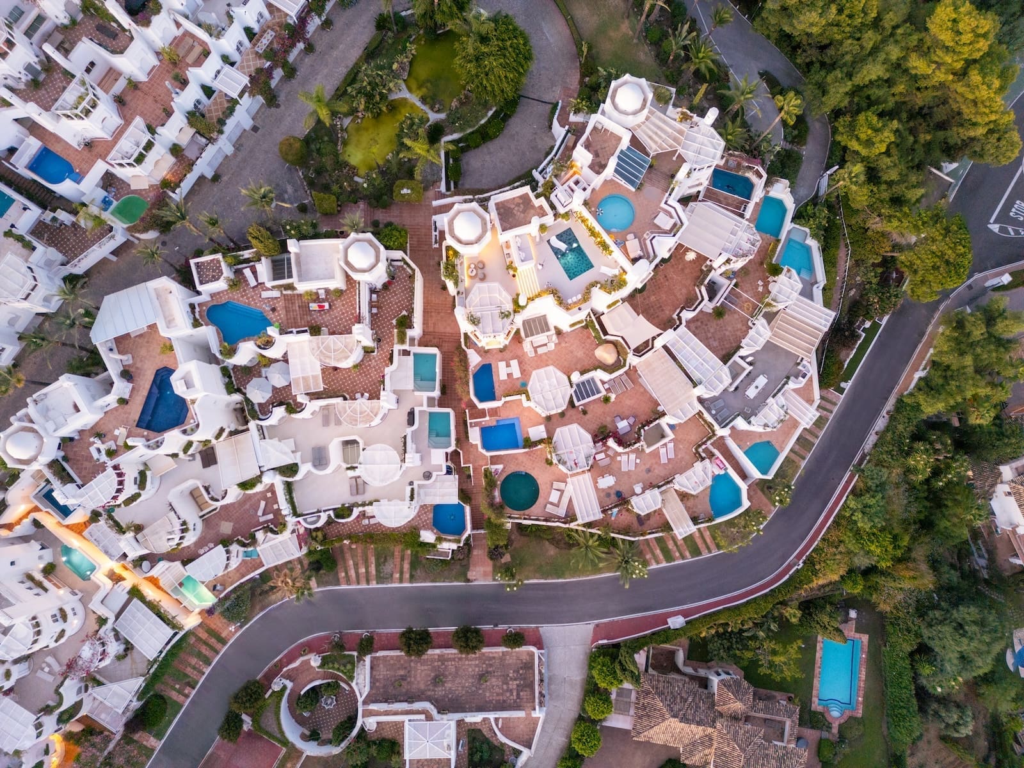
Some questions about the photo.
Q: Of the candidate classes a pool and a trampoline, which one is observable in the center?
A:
pool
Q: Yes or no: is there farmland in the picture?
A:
No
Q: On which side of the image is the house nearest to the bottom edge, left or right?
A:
right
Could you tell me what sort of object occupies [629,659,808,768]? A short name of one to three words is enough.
house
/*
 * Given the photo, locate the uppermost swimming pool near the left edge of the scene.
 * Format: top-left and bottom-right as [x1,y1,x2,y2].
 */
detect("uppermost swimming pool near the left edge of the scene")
[26,148,86,187]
